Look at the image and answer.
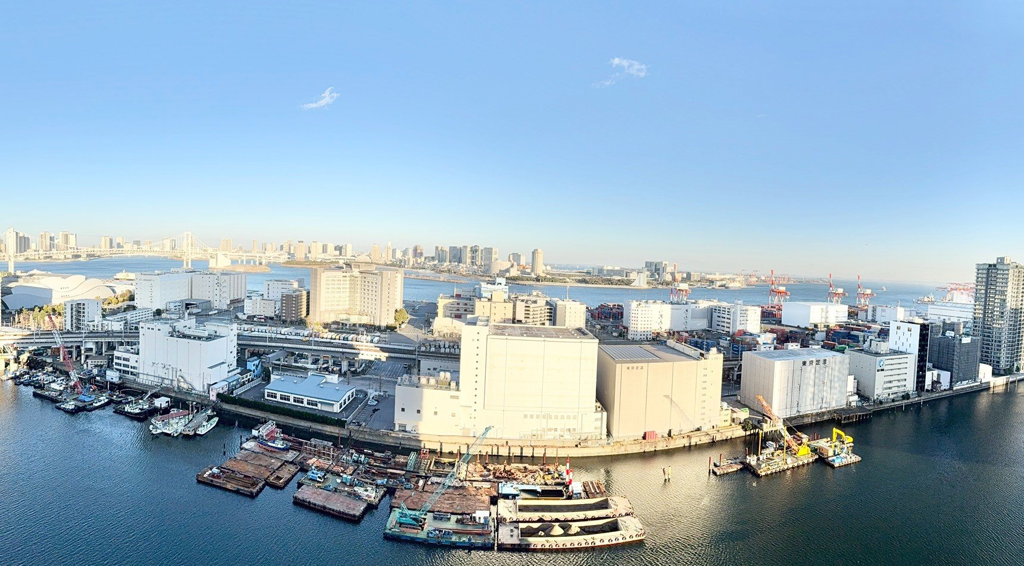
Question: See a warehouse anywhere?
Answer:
Yes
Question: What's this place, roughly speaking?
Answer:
port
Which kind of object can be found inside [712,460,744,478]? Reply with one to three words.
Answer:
ship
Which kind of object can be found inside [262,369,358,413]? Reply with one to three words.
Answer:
building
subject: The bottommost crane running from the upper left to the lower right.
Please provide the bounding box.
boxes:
[755,395,819,455]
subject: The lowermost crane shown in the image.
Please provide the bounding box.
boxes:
[392,426,494,531]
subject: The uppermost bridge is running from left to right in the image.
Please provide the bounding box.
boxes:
[0,227,309,272]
